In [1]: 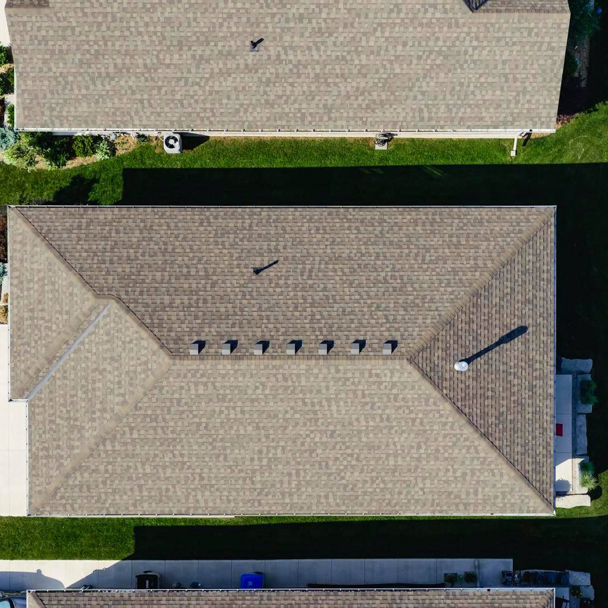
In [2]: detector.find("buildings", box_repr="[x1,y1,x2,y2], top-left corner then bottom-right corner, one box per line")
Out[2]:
[28,585,556,608]
[4,0,572,153]
[10,208,556,515]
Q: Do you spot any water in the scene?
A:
No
